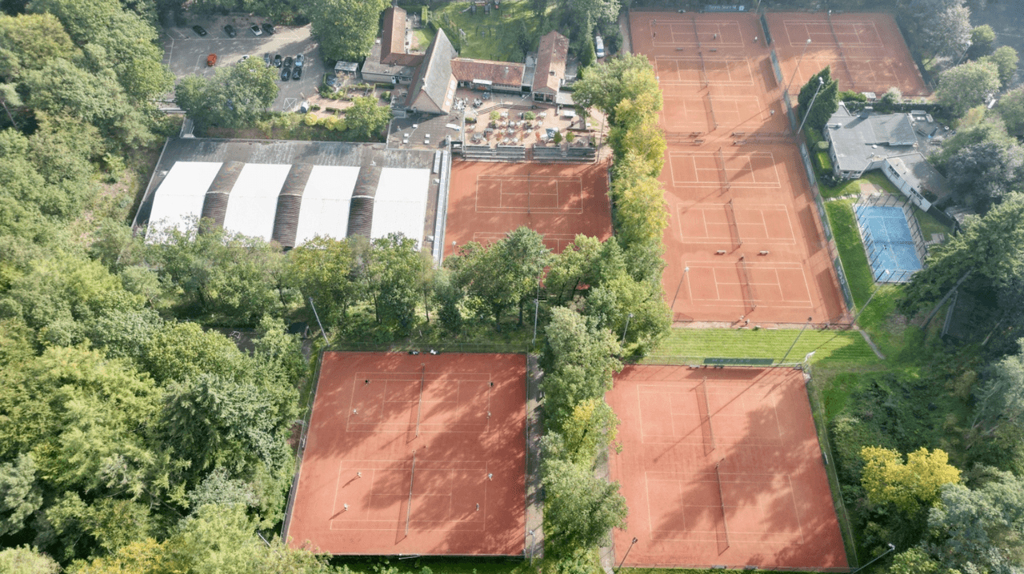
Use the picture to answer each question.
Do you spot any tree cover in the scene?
Yes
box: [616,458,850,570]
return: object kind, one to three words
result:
tennis court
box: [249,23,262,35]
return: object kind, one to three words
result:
vehicle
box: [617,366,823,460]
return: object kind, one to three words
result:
tennis court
